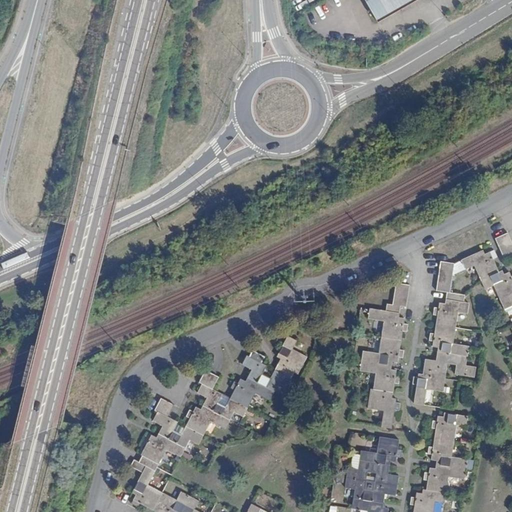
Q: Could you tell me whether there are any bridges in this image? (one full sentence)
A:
Yes, a bridge appears in the view.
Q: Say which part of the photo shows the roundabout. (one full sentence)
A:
The roundabout sits in the top section of the image.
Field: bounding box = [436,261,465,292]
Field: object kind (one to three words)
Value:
building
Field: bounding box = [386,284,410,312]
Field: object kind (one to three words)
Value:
building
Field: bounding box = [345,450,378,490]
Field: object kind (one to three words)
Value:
house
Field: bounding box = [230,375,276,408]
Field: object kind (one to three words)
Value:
house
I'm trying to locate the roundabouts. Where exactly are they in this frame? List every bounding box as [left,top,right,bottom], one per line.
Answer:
[210,42,351,172]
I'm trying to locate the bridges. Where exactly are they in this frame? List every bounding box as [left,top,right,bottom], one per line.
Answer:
[10,200,114,446]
